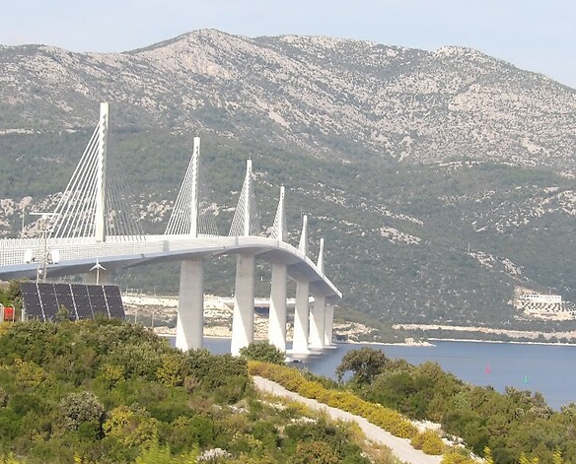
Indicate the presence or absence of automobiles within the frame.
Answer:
No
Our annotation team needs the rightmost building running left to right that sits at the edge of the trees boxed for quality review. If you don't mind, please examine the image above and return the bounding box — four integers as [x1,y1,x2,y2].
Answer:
[518,295,561,313]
